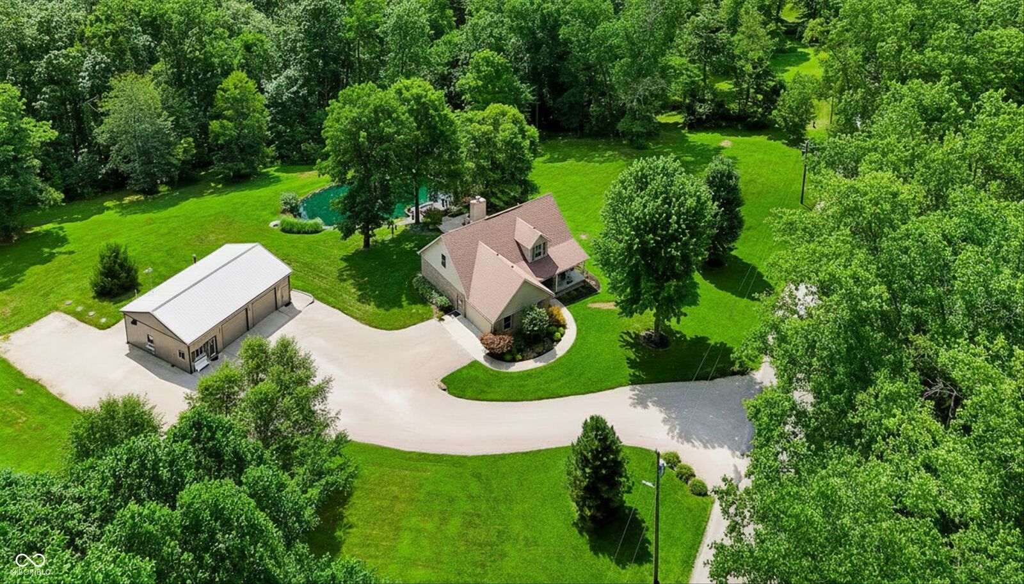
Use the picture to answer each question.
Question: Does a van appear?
No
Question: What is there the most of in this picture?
trees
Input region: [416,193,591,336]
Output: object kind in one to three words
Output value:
house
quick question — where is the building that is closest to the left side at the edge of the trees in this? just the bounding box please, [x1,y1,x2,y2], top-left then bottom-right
[119,242,293,374]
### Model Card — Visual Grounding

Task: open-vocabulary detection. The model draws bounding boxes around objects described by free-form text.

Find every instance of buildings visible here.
[416,193,591,336]
[119,242,293,374]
